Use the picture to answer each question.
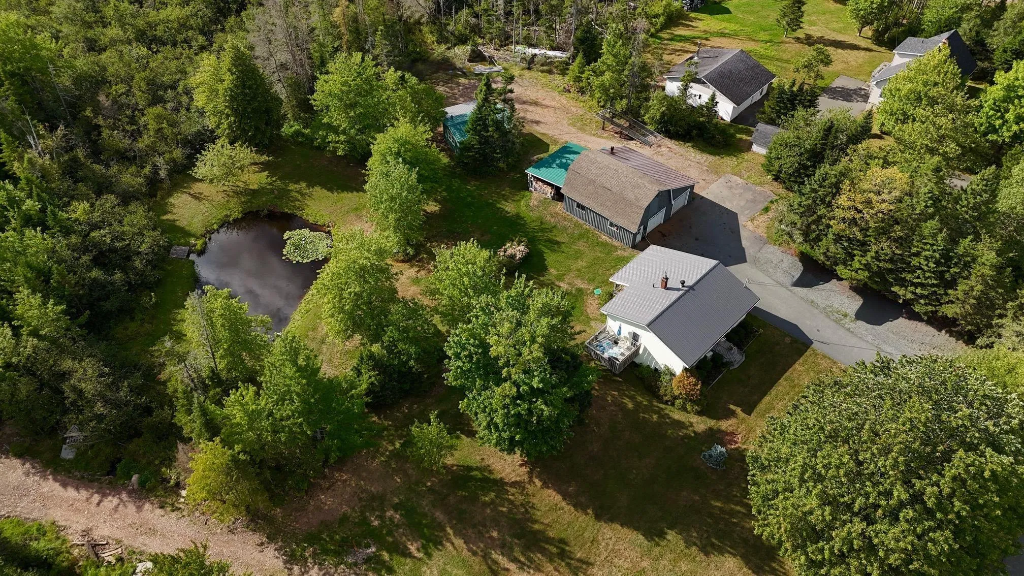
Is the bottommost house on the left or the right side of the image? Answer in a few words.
right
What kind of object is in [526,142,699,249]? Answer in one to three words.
building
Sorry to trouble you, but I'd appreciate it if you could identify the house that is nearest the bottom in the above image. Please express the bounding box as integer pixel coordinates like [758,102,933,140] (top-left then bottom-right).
[599,244,760,387]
